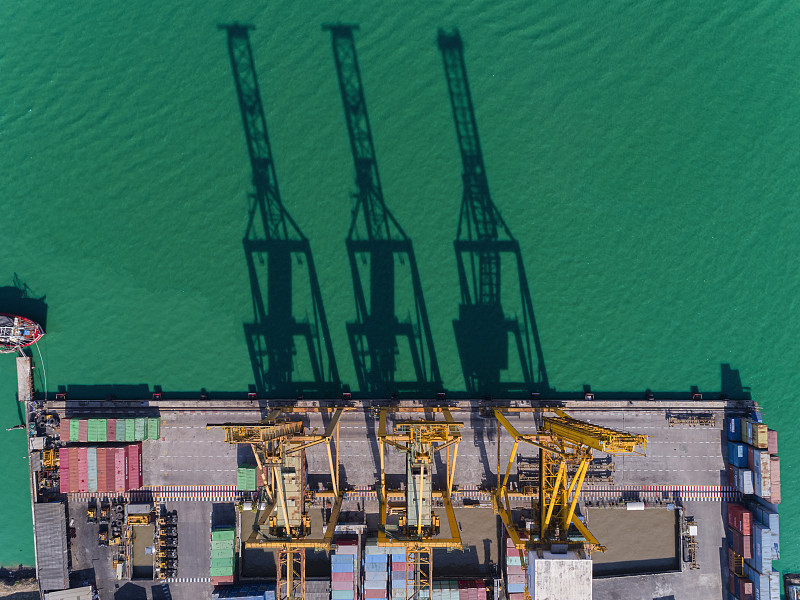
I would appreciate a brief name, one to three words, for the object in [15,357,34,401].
pier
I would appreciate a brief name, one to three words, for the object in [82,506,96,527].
work vehicle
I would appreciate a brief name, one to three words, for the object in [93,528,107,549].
work vehicle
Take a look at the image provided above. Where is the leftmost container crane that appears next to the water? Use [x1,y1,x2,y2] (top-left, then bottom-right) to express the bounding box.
[205,408,363,600]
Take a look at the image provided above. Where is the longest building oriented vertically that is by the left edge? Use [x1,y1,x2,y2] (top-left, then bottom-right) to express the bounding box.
[34,498,72,591]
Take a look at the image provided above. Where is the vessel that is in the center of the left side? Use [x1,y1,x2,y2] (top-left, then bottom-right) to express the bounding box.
[0,312,45,352]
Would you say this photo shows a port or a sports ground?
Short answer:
port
